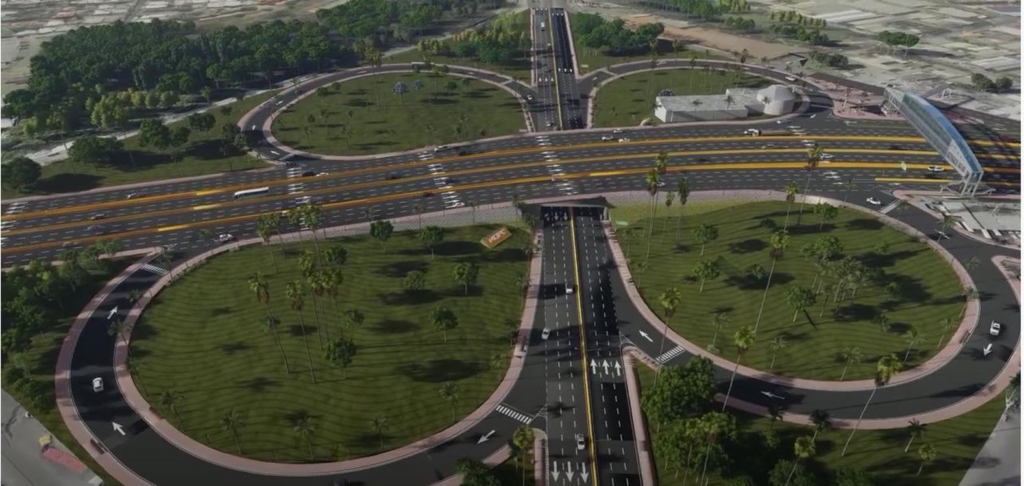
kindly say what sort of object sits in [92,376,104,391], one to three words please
vehicle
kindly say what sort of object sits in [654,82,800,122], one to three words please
building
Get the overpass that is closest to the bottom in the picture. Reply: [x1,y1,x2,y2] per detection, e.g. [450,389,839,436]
[530,195,615,233]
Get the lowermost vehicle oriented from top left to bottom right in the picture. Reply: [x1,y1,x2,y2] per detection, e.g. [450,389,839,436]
[40,434,81,466]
